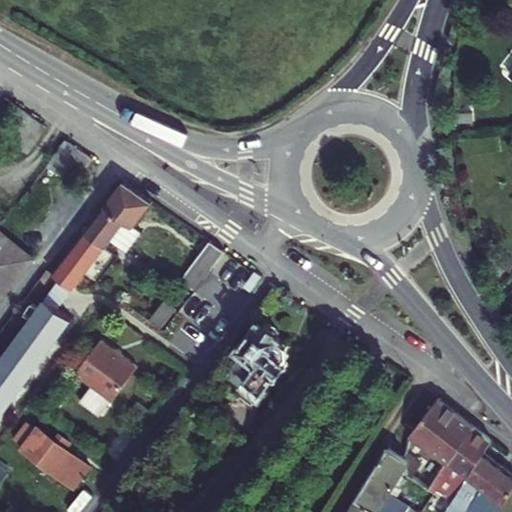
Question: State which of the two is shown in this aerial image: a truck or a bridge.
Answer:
truck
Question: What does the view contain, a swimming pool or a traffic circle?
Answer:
traffic circle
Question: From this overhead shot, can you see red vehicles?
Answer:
Yes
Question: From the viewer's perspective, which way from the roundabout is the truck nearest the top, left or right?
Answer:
on its left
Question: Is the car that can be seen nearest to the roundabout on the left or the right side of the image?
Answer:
right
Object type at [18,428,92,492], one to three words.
house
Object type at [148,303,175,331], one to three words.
shed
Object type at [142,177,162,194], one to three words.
car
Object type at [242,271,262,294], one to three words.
vehicle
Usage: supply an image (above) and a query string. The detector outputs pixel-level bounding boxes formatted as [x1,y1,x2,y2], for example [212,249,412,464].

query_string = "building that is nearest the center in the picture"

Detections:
[186,243,224,287]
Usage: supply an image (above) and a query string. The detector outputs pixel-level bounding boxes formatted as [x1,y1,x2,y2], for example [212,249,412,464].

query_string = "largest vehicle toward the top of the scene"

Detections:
[116,105,186,144]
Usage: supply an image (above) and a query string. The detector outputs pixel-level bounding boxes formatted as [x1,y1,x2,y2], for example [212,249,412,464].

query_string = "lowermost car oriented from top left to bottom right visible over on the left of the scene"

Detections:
[183,324,204,343]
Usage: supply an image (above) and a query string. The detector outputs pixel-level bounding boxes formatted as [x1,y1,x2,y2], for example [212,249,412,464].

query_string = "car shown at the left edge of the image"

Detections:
[19,302,36,322]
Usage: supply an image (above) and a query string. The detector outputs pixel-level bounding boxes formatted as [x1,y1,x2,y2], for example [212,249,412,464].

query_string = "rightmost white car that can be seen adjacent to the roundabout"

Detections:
[362,252,385,272]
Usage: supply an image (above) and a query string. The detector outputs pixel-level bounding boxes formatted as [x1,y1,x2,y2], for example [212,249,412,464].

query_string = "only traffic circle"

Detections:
[267,89,433,258]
